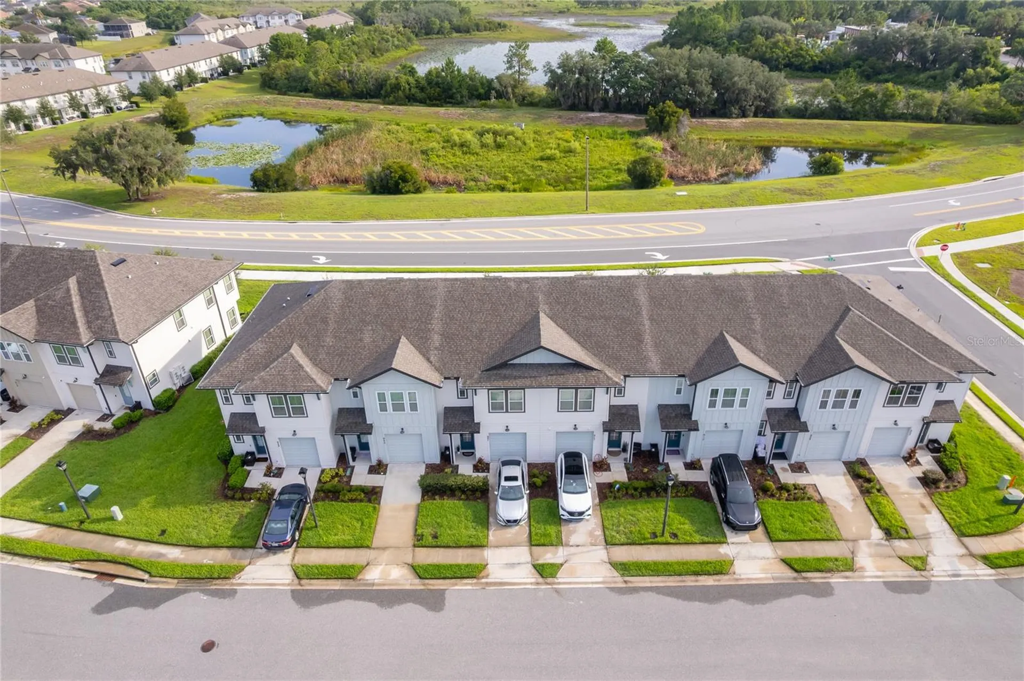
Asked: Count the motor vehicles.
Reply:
4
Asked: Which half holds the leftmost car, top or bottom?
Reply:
bottom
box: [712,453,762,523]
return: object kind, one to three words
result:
car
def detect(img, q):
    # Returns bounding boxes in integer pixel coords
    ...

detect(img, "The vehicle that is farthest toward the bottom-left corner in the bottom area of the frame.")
[263,481,311,545]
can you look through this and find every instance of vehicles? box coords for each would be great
[493,458,530,522]
[556,452,594,516]
[263,481,311,545]
[712,453,762,523]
